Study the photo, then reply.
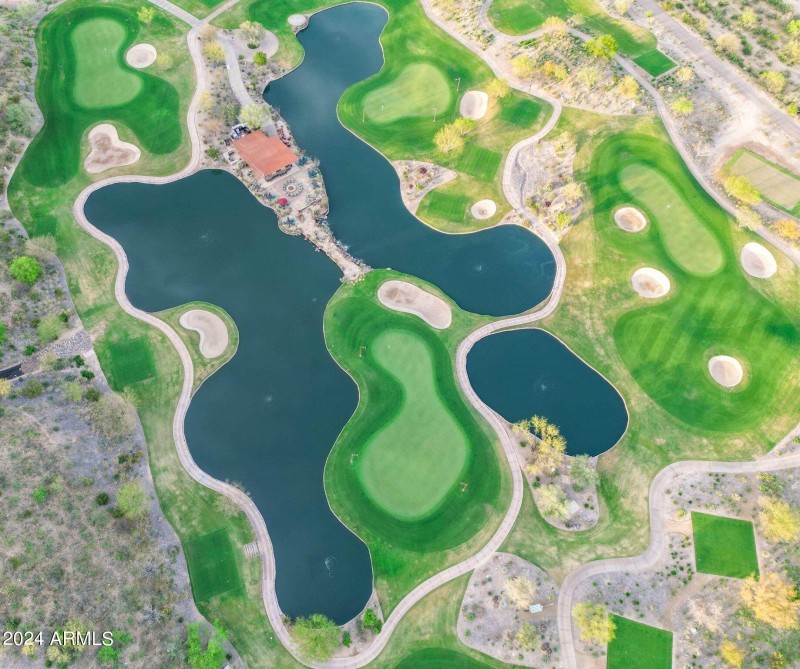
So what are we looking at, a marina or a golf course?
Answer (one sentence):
This looks like a golf course.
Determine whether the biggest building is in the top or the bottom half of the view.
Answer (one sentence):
The top half of the photo is where the biggest building is.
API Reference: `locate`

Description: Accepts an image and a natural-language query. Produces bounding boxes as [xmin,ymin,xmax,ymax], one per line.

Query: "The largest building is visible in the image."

[233,129,299,184]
